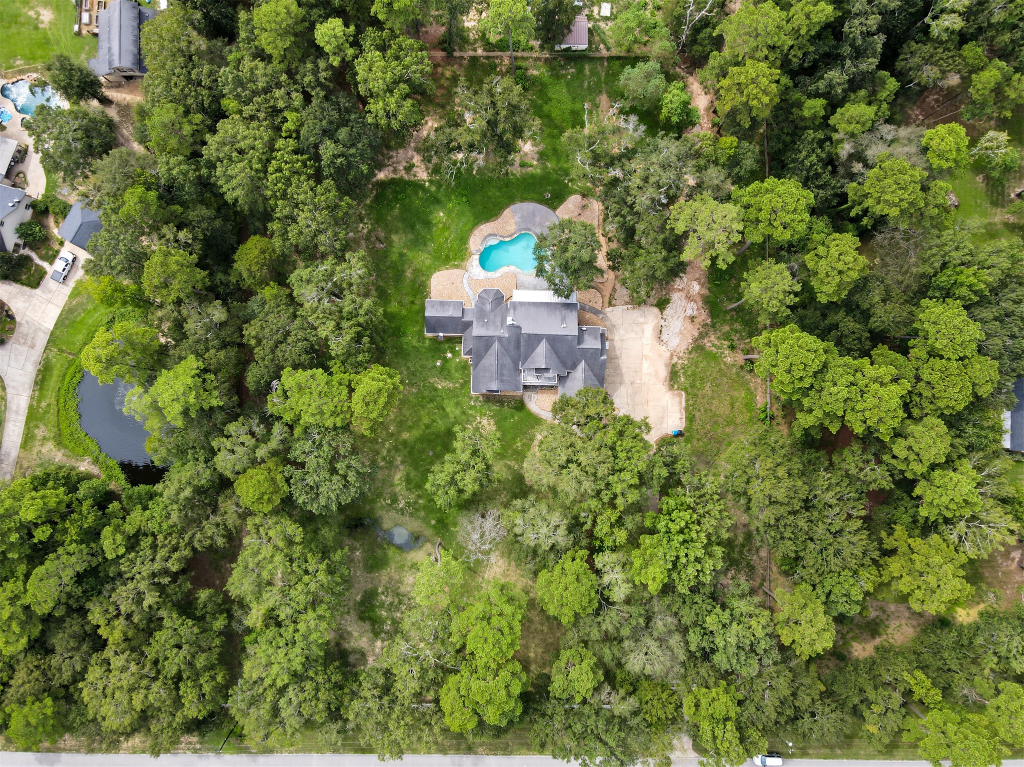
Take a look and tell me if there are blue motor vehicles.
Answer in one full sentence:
No, I can see no blue motor vehicle in this picture.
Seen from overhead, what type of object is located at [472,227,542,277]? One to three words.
swimming pool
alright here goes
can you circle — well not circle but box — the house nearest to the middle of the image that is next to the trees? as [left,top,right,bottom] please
[424,288,607,401]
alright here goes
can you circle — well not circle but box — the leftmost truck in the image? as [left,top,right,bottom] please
[51,250,77,285]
